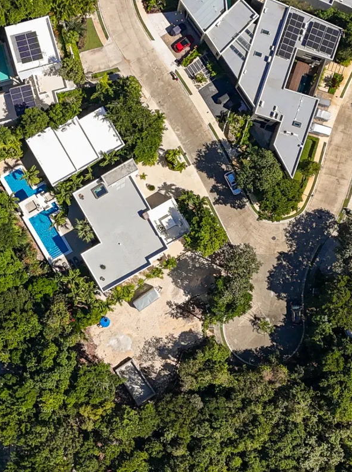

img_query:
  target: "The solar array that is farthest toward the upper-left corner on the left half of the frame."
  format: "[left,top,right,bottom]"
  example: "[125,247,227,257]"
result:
[16,31,43,63]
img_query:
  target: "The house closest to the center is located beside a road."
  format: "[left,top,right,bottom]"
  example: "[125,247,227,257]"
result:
[73,158,188,291]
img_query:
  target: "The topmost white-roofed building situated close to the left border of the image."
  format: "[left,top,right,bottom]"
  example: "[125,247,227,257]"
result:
[0,16,77,124]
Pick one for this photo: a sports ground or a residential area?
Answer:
residential area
